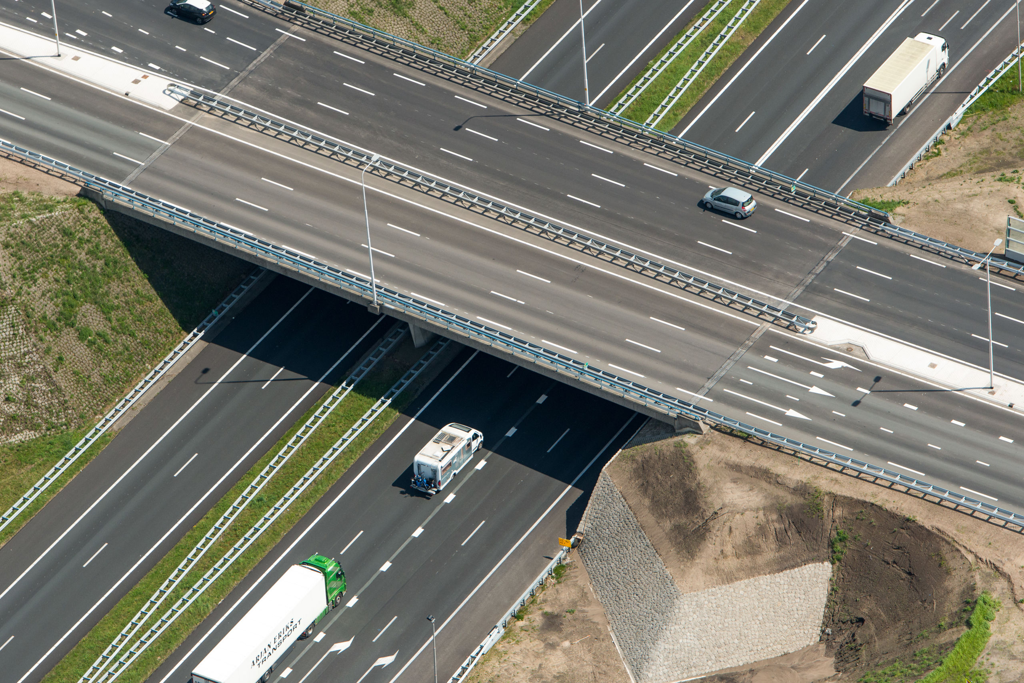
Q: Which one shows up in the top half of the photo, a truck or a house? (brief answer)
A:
truck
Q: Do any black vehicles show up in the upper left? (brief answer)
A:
Yes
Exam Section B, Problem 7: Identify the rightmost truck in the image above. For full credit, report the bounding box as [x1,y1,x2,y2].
[863,34,949,128]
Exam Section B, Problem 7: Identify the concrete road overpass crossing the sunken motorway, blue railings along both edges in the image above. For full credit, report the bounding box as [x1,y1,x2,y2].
[74,4,898,446]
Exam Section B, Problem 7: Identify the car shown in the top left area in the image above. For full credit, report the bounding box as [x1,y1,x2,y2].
[169,0,218,24]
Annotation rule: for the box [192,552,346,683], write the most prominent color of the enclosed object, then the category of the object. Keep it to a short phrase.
white truck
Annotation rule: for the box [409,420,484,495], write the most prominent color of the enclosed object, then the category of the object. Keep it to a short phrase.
white camper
